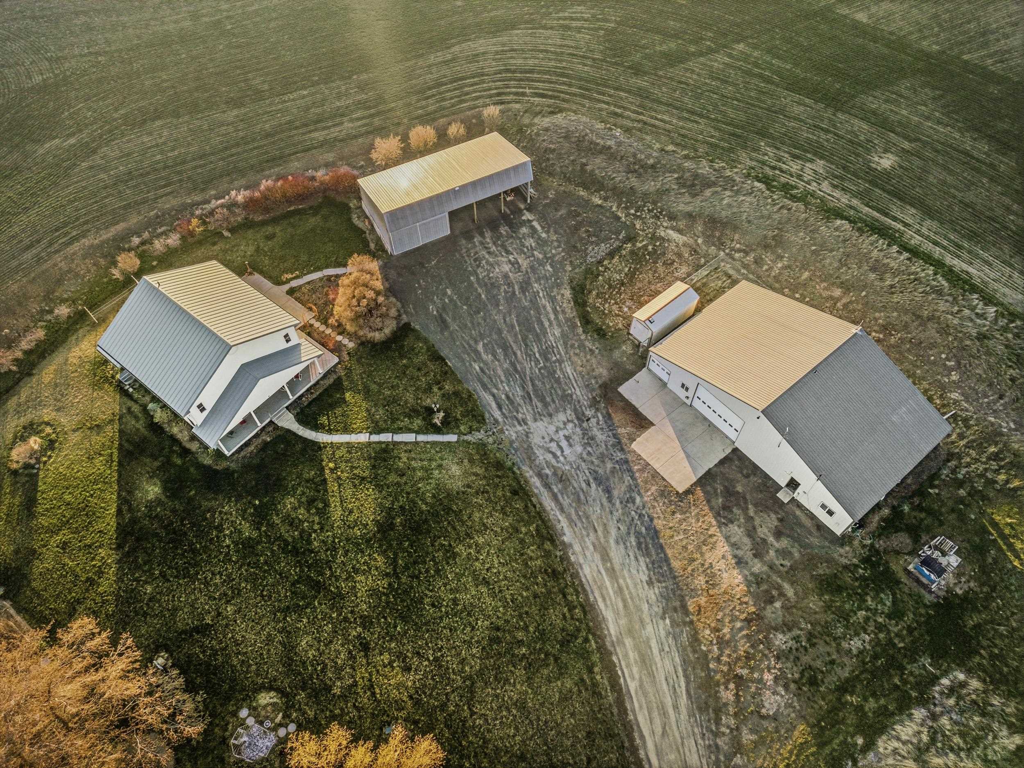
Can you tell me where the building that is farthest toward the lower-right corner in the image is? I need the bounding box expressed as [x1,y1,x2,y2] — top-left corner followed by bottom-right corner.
[646,280,956,535]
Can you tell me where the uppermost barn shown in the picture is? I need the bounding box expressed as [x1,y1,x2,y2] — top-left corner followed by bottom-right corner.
[358,131,531,255]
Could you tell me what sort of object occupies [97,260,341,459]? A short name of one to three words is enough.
house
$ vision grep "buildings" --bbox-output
[646,280,956,535]
[97,260,341,459]
[358,131,531,255]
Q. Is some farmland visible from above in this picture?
Yes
